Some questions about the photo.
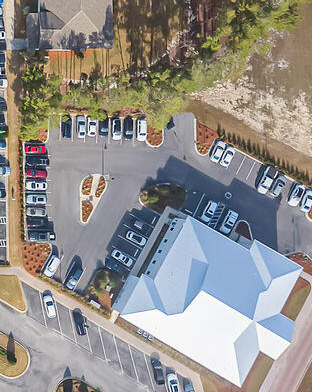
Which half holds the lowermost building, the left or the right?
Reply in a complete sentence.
It is on the right.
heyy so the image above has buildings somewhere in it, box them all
[105,216,303,387]
[23,0,111,51]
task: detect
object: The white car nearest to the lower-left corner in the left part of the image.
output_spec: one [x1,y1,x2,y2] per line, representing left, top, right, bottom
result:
[43,296,56,318]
